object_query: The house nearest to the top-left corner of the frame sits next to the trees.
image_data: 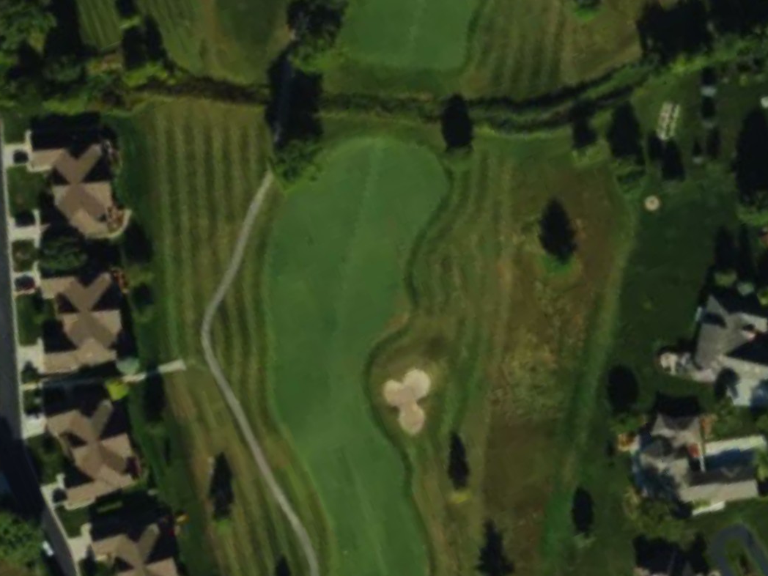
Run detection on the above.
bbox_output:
[29,128,111,243]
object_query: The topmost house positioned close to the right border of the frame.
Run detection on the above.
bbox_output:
[694,287,768,382]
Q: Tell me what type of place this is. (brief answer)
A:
golf course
